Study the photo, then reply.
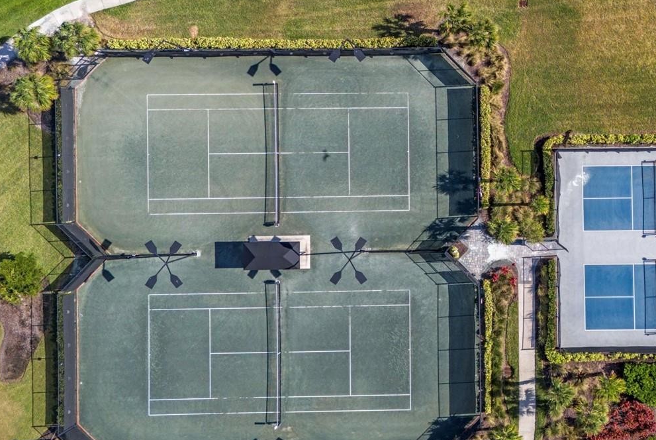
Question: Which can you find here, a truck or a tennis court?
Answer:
tennis court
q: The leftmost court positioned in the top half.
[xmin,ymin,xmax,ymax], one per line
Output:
[77,52,481,256]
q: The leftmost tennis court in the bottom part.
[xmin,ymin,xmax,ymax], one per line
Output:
[79,253,482,440]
